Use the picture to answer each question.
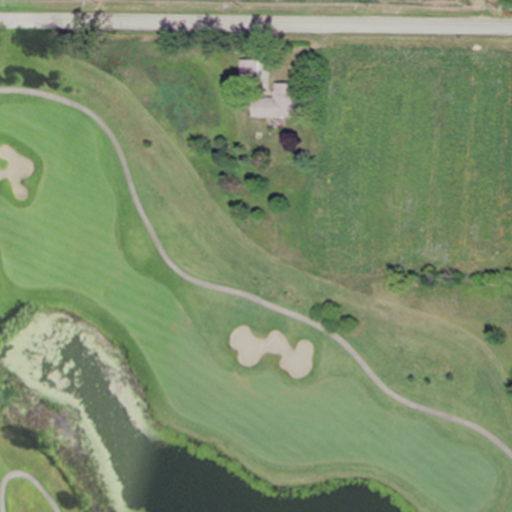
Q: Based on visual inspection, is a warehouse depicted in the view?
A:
No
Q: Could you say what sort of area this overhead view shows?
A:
golf course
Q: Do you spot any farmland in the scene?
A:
Yes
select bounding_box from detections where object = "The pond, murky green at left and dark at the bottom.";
[2,312,393,512]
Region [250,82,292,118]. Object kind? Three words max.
house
